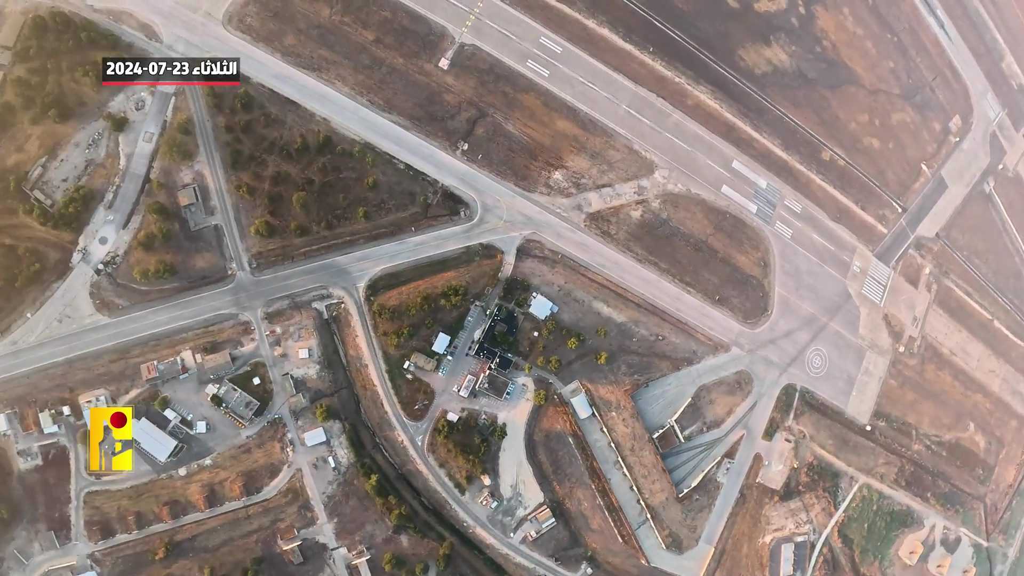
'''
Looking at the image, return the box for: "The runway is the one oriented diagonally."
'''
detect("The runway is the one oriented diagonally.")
[404,0,860,281]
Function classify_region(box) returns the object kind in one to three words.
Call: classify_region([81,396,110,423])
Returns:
building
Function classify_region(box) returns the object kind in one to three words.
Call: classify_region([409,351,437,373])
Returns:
shed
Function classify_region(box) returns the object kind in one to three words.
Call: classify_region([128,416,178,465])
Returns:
hangar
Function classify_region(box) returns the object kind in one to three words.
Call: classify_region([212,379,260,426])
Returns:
building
